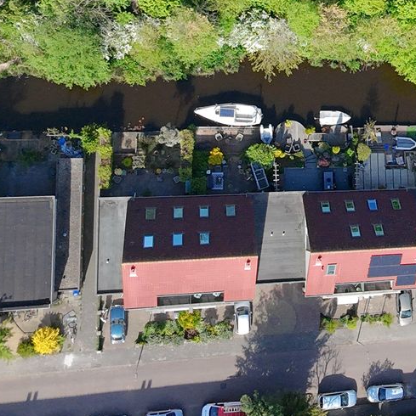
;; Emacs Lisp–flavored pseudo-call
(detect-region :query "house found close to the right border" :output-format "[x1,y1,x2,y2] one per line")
[304,188,416,306]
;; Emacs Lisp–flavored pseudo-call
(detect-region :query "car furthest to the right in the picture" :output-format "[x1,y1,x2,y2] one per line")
[396,289,415,326]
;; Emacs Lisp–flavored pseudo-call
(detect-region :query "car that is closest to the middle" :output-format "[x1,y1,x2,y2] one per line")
[233,300,252,337]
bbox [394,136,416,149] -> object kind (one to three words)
boat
